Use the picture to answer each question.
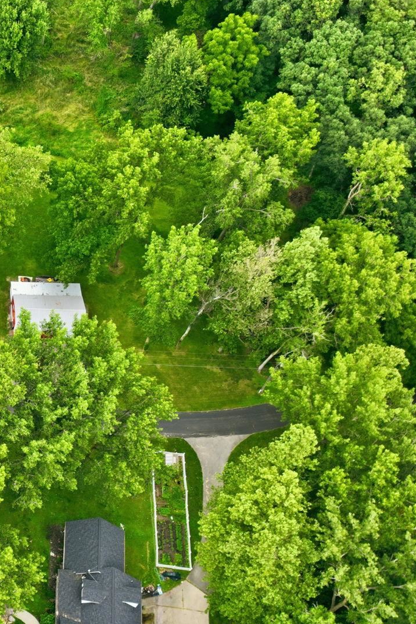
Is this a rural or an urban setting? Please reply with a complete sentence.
From above, the setting appears rural.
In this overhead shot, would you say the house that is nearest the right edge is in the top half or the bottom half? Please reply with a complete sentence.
The house that is nearest the right edge is in the bottom half of the image.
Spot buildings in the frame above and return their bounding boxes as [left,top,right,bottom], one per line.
[8,282,88,329]
[51,518,146,624]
